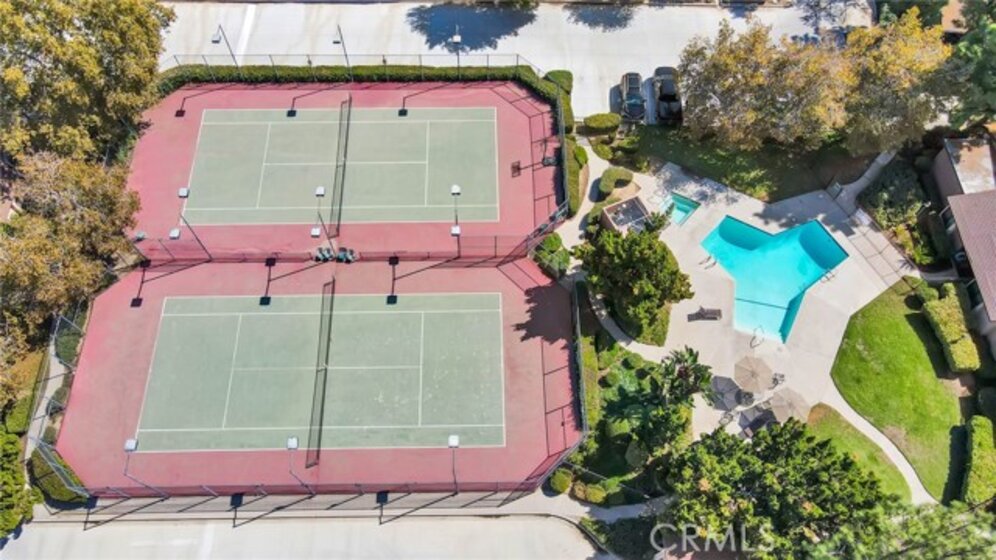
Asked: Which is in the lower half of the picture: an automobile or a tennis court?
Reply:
tennis court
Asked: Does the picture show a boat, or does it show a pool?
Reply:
pool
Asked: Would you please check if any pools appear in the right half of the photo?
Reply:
Yes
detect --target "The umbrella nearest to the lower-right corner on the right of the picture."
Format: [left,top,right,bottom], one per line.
[767,384,811,427]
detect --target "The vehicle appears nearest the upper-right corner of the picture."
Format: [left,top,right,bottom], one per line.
[656,68,689,124]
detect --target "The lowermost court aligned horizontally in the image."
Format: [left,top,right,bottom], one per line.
[56,256,581,497]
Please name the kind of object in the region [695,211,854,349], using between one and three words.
swimming pool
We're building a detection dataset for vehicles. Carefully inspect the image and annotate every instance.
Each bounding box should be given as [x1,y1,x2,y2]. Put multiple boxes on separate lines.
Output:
[619,71,649,122]
[656,68,689,124]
